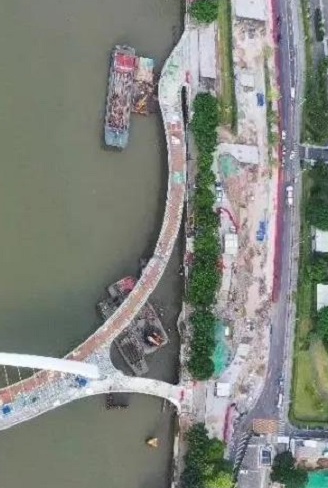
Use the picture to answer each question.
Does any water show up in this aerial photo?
Yes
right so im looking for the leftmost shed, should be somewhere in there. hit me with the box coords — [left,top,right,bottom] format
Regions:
[197,28,217,81]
